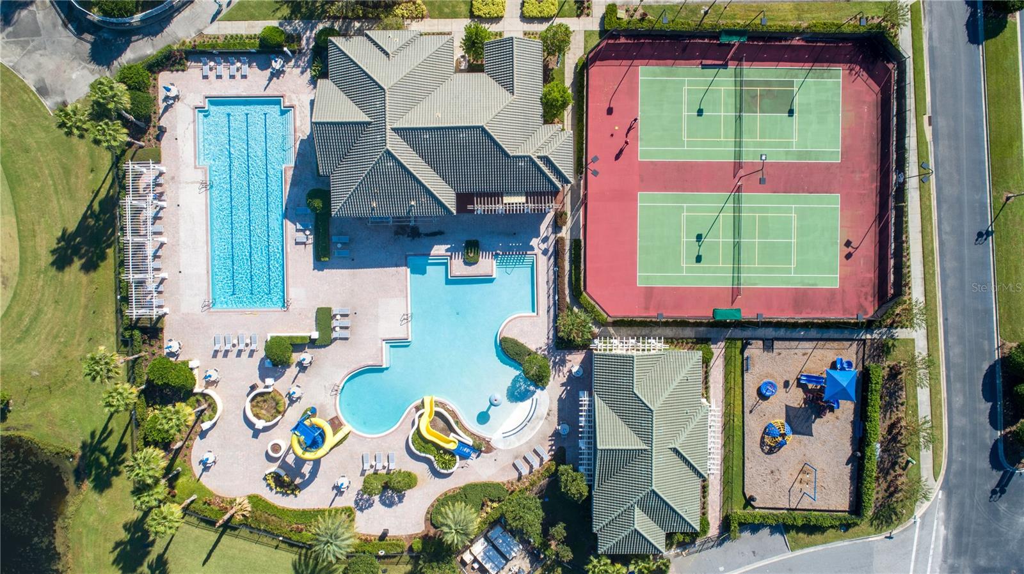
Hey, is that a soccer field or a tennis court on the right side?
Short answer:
tennis court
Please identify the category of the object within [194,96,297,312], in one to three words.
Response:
swimming pool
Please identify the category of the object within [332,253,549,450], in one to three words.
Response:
swimming pool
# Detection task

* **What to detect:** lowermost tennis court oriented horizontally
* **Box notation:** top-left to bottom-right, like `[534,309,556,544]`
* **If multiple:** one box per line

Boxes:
[587,177,893,318]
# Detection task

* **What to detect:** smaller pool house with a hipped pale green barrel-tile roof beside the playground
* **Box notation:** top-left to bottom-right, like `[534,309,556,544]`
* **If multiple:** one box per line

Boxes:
[593,350,708,555]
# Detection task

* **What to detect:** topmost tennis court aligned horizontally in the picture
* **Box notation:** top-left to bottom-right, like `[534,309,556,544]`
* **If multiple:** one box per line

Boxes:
[588,39,895,177]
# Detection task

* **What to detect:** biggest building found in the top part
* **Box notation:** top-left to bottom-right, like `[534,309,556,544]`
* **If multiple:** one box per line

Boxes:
[308,29,573,216]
